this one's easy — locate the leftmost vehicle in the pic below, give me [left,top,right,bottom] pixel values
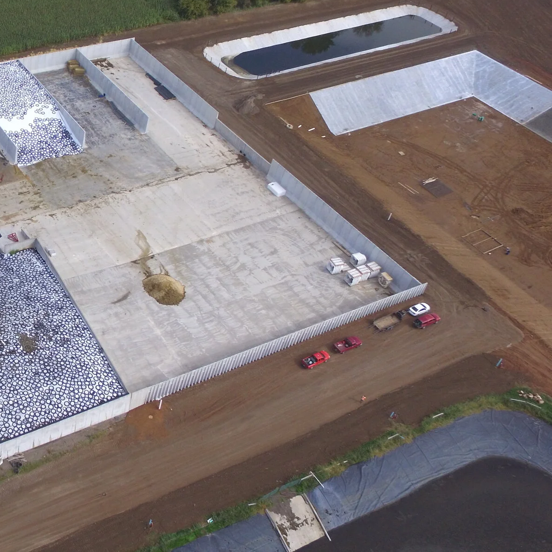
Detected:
[300,348,334,367]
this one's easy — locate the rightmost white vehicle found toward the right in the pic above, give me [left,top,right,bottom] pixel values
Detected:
[407,300,433,315]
